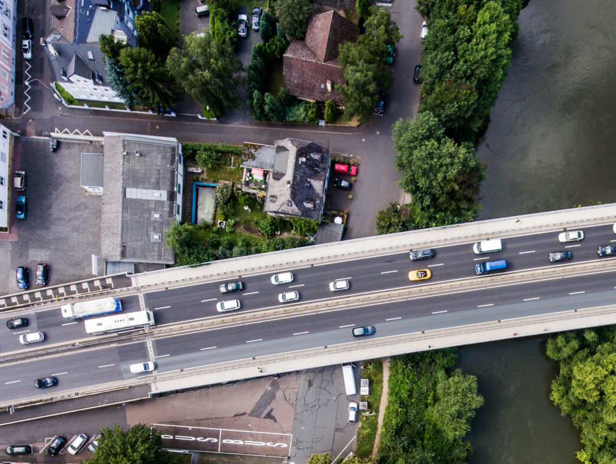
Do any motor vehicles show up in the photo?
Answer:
Yes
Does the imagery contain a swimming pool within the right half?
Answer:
No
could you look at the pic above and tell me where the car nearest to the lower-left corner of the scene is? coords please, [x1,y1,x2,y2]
[5,443,33,456]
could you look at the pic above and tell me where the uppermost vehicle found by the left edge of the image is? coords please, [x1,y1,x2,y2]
[20,17,35,40]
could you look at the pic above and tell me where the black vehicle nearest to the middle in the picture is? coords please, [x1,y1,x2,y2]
[334,177,352,190]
